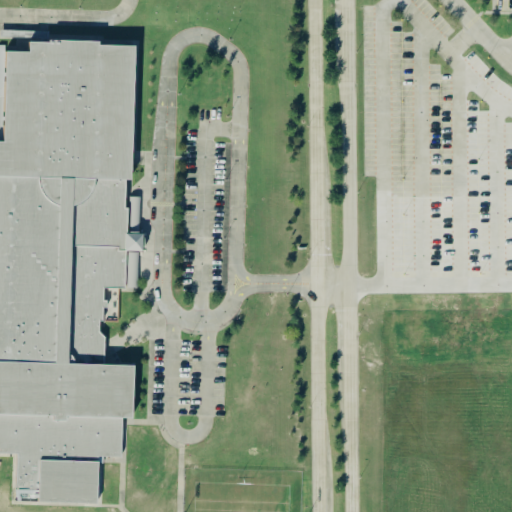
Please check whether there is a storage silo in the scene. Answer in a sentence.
No, this view has no storage silo in it.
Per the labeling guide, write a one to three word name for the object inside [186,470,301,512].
sports field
